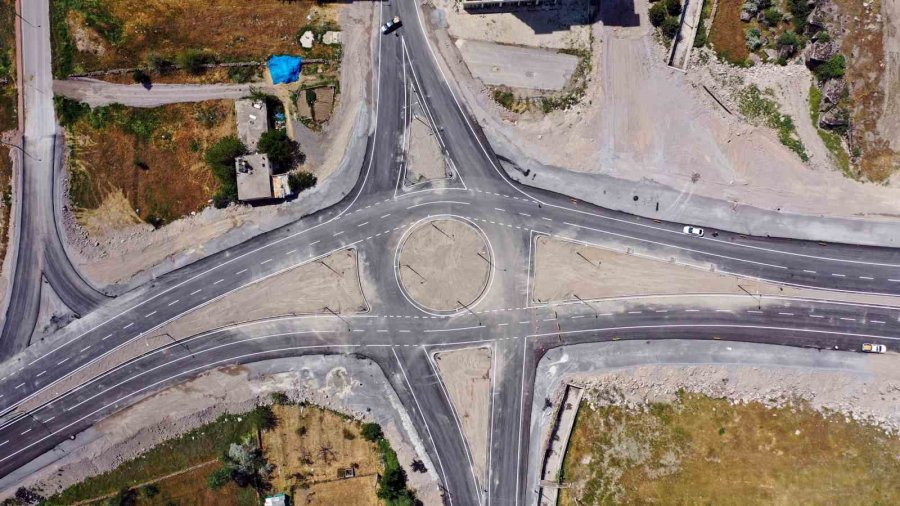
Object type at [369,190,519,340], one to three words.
roundabout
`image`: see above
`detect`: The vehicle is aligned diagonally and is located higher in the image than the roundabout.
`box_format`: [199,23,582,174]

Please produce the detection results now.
[380,13,403,33]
